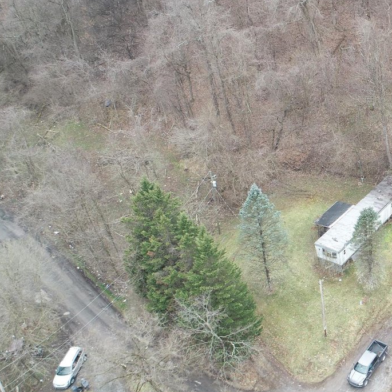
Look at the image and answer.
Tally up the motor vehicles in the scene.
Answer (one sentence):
The picture shows 2 motor vehicles.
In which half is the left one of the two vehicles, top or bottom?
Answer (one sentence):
The left one of the two vehicles sits in the bottom half of the picture.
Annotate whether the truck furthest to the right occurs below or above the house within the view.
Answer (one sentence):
In the image, the truck furthest to the right appears below the house.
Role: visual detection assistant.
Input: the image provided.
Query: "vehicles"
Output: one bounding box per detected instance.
[51,346,89,389]
[347,339,390,389]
